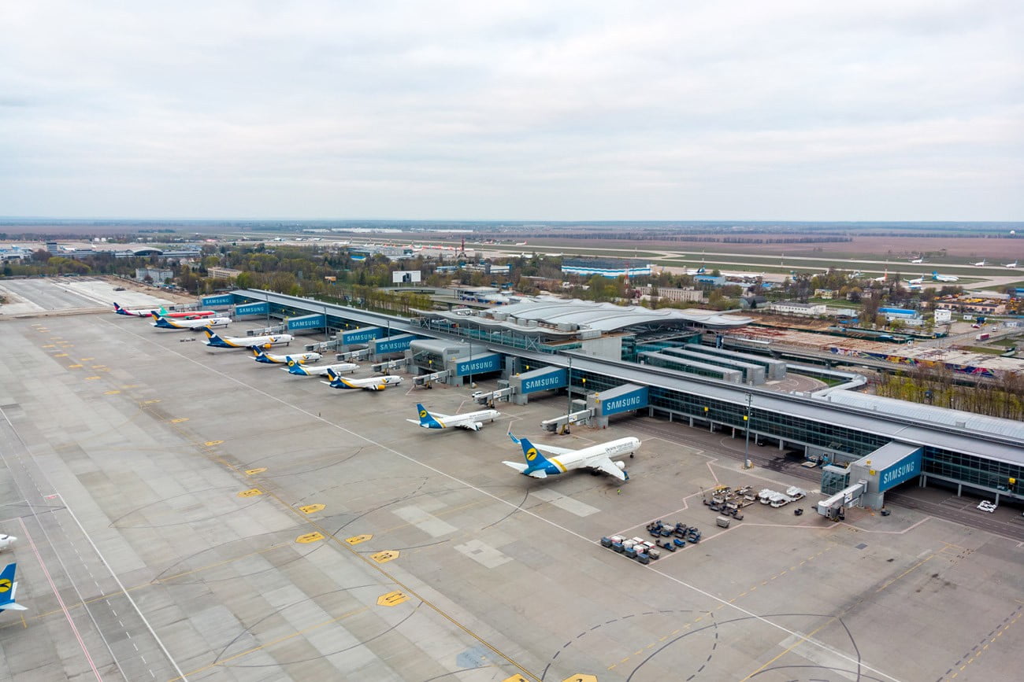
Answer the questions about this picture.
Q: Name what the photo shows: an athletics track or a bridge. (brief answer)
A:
bridge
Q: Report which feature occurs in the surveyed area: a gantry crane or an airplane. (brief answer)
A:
airplane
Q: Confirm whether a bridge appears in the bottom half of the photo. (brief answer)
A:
Yes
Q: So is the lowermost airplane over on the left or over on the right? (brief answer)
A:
left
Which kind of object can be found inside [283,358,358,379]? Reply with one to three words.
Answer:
airplane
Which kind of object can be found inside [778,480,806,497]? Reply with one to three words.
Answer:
vehicle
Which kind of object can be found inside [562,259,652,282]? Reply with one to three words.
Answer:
hangar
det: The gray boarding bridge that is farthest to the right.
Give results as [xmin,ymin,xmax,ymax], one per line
[818,475,871,523]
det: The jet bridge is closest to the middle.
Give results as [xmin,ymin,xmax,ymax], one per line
[469,384,517,410]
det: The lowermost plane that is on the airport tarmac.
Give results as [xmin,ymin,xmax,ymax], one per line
[0,564,24,615]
